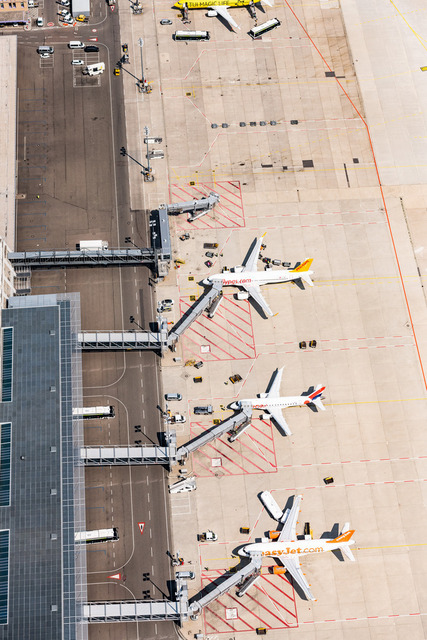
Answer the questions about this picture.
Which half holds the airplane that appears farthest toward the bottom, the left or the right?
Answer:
right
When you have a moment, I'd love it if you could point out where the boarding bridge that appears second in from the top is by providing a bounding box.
[169,281,225,352]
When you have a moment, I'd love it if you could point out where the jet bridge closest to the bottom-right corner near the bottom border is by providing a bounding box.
[188,549,265,621]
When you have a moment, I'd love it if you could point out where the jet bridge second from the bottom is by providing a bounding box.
[177,401,257,466]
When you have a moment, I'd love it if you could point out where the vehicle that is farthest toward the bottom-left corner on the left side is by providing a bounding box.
[74,528,119,545]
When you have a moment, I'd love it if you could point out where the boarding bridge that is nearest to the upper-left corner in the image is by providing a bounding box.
[159,192,223,227]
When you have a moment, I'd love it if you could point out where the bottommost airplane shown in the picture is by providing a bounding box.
[241,492,356,599]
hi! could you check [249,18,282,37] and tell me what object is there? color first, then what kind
white vehicle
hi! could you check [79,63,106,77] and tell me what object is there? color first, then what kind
white vehicle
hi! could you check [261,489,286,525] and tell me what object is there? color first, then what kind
white truck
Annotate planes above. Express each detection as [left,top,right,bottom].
[231,364,324,435]
[174,0,272,28]
[241,492,356,599]
[207,230,316,316]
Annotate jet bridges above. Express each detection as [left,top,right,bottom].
[169,281,225,352]
[159,192,223,227]
[188,549,265,621]
[177,401,257,466]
